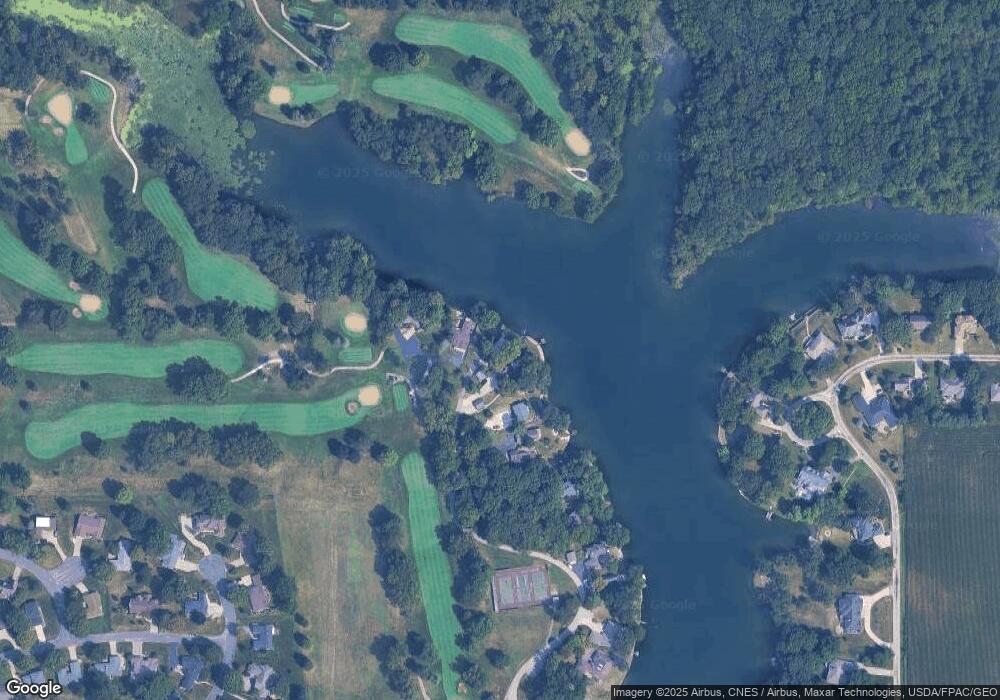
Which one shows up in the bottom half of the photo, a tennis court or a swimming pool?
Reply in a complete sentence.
The one visible in the bottom half of the photo is a tennis court.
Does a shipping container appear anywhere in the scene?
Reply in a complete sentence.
No, the picture doesn't show any shipping container.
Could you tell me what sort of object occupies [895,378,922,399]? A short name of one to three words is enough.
house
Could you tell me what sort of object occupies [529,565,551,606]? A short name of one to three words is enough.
tennis court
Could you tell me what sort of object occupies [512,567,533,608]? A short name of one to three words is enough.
tennis court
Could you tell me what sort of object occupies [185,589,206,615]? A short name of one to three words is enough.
house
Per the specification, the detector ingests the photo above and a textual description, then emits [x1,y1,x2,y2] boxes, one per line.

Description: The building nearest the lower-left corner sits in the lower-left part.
[21,670,47,689]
